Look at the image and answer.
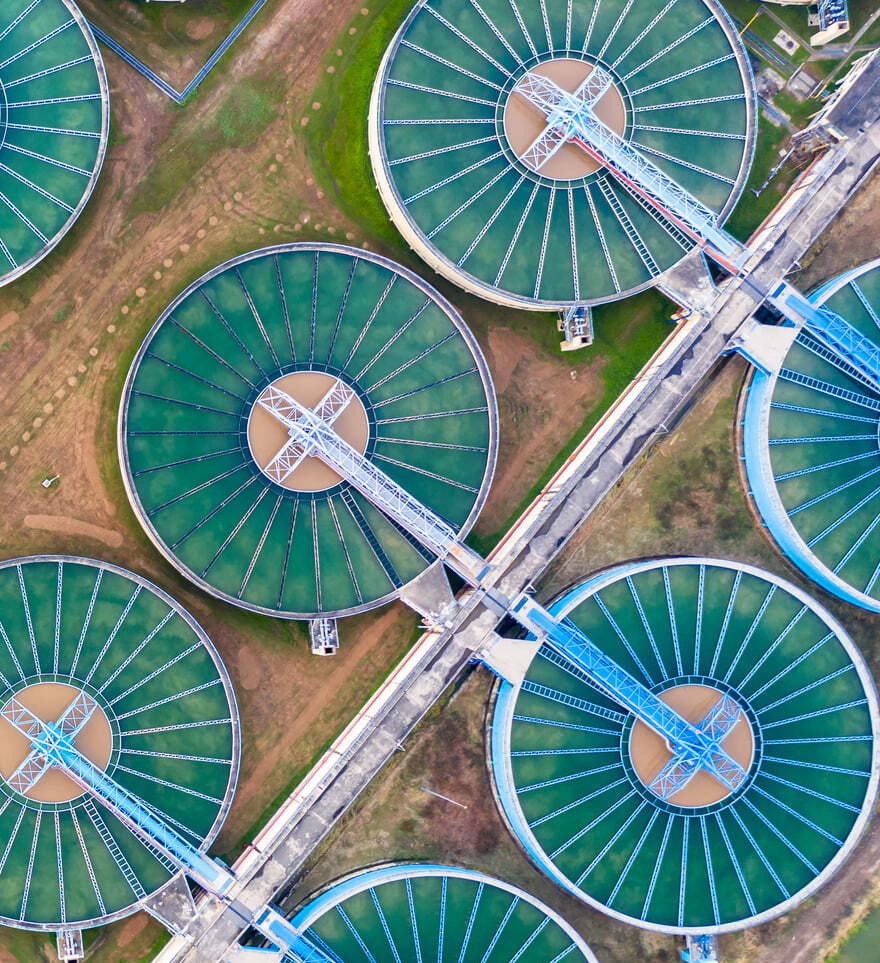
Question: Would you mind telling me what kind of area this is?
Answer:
industrial area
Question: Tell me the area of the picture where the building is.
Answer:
top right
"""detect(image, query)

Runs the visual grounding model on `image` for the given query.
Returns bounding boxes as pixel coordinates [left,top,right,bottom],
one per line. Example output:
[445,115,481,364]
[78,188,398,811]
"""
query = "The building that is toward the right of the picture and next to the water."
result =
[807,37,880,153]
